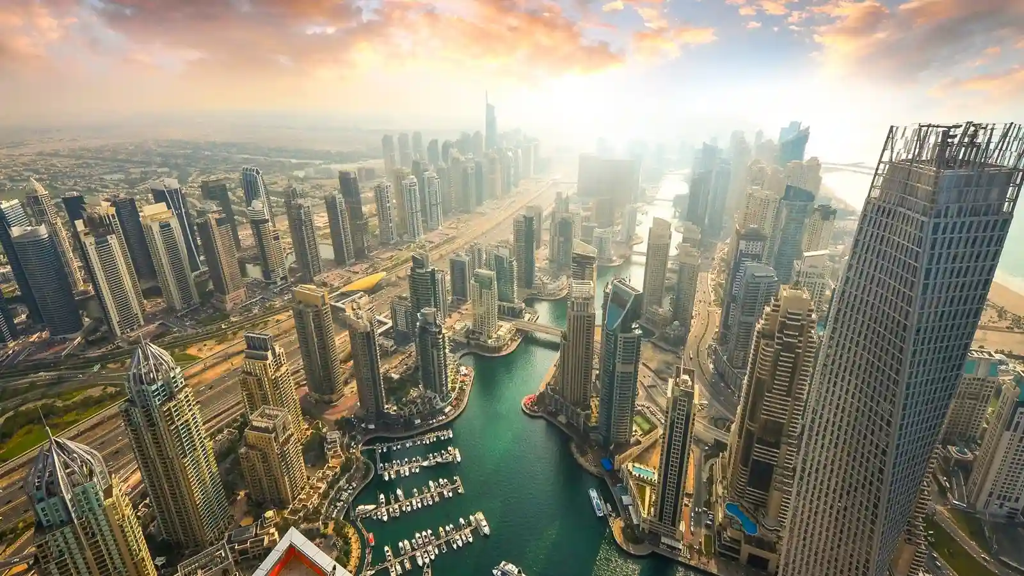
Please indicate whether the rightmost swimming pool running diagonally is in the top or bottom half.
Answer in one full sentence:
The rightmost swimming pool running diagonally sits in the bottom half of the picture.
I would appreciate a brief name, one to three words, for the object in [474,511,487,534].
boat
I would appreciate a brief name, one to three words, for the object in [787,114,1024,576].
building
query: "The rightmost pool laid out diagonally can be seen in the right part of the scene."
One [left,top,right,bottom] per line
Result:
[724,506,760,536]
